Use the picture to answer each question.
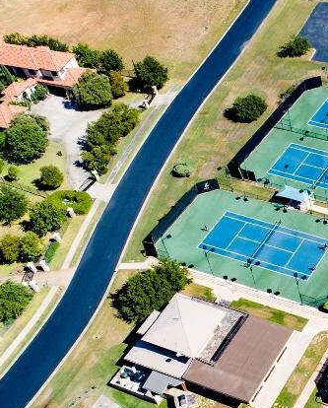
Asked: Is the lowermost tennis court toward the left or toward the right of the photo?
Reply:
right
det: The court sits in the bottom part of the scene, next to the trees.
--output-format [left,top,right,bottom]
[157,189,328,308]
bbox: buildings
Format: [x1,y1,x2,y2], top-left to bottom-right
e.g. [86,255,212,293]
[0,42,87,134]
[126,293,295,408]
